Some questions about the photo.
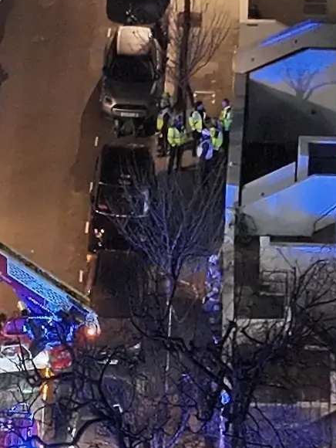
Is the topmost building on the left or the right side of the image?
right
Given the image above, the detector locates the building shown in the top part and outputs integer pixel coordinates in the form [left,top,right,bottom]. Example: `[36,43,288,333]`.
[294,135,336,172]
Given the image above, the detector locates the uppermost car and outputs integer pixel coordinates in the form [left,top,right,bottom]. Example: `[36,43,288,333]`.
[101,21,167,113]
